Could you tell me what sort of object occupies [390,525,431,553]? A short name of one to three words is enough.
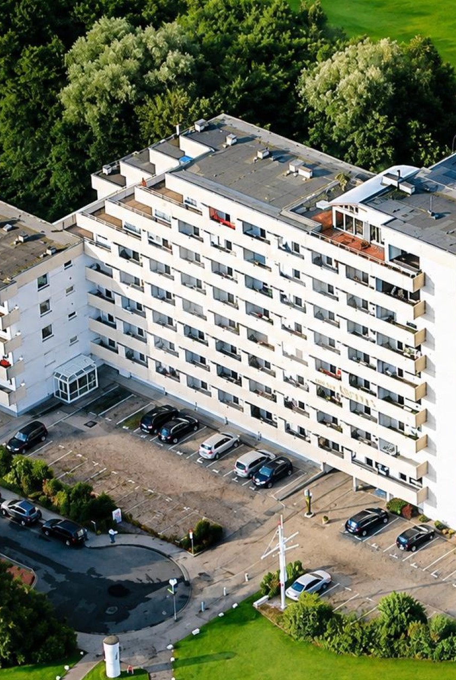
car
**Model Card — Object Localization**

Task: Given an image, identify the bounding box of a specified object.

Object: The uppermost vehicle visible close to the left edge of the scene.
[5,419,49,450]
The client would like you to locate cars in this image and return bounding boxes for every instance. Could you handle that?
[5,419,49,450]
[136,405,180,432]
[390,525,431,553]
[195,431,238,459]
[287,566,332,596]
[153,415,197,443]
[229,449,272,478]
[0,499,42,527]
[345,504,388,535]
[250,456,291,487]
